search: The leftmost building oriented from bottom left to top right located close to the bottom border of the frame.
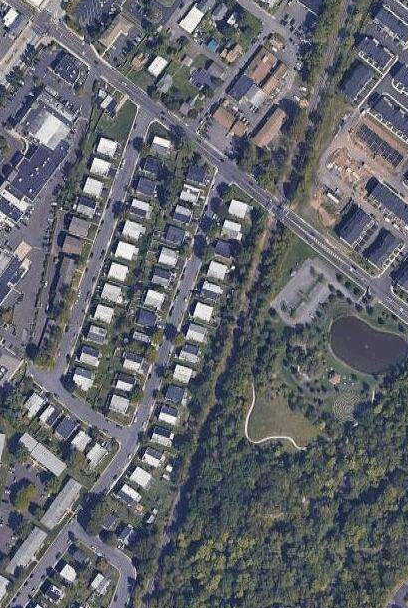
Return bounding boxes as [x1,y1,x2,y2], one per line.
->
[6,526,46,578]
